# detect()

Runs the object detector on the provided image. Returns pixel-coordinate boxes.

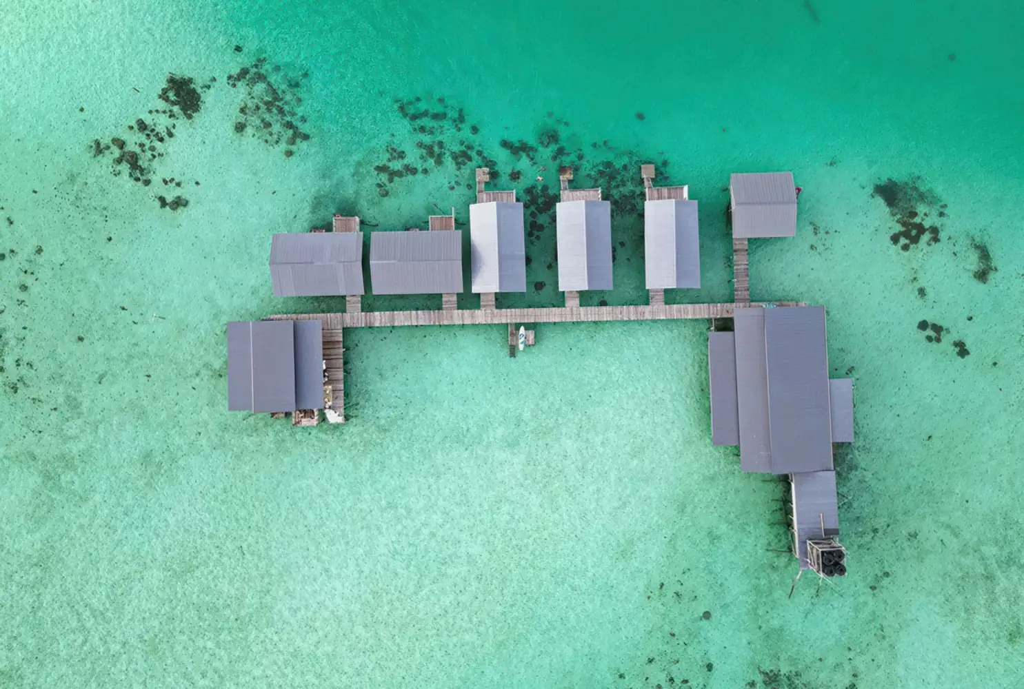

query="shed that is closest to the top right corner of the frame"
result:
[722,172,797,238]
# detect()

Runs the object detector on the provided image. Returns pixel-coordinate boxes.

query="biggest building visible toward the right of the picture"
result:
[706,305,854,473]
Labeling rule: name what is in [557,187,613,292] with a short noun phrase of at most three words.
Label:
shed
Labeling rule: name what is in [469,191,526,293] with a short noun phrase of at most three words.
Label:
shed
